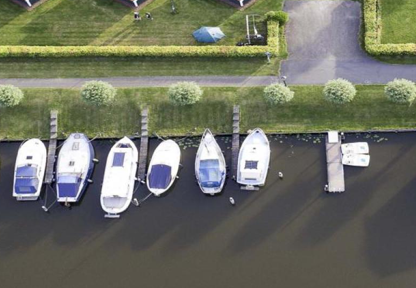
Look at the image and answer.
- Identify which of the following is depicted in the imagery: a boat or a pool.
boat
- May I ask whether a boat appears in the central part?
Yes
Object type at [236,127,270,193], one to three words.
boat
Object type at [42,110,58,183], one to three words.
pier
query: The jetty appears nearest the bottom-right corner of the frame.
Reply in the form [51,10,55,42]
[327,131,345,193]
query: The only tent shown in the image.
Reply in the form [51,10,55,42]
[191,27,225,44]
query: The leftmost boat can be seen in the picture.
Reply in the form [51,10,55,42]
[12,138,46,203]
